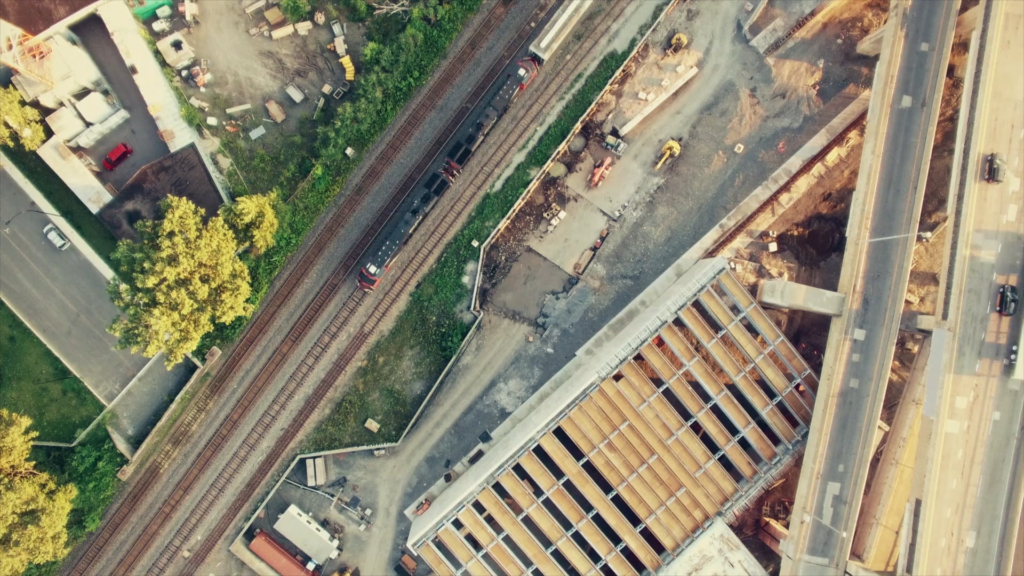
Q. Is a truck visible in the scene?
Yes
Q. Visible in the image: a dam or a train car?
train car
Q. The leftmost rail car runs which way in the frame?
at an angle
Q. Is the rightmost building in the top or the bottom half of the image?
bottom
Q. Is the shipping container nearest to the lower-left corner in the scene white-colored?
No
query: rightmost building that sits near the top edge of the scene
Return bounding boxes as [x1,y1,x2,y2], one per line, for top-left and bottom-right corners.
[97,1,233,211]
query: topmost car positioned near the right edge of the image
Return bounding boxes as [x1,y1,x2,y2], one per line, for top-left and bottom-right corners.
[987,149,1011,186]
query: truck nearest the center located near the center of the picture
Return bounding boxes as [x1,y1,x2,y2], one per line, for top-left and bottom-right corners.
[575,217,619,276]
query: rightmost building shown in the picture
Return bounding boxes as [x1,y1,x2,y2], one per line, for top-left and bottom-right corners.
[268,501,344,569]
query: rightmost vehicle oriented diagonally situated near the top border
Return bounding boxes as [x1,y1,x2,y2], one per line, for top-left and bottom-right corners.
[662,27,693,58]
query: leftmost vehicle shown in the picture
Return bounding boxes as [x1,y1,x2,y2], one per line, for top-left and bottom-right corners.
[41,221,68,252]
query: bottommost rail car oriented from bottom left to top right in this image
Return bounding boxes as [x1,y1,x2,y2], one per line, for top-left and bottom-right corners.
[358,167,459,295]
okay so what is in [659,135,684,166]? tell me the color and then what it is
yellow work vehicle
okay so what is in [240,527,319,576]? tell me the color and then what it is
red shipping container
